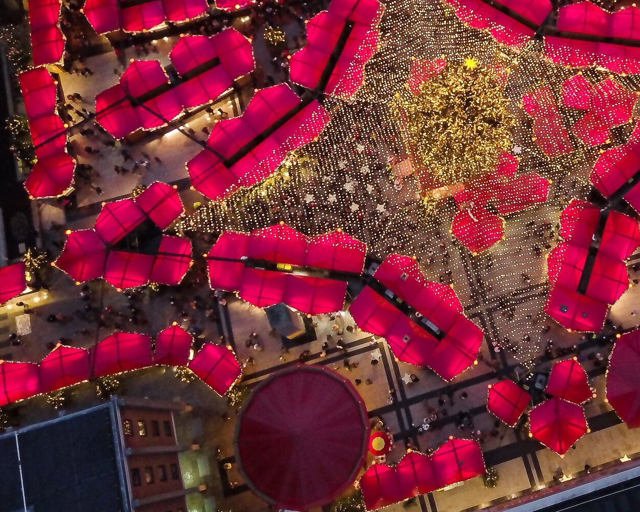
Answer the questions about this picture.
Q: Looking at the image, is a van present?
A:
No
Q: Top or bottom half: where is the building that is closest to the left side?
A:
bottom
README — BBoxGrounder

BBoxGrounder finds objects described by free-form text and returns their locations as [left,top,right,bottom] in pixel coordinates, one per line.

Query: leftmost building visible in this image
[0,391,222,512]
